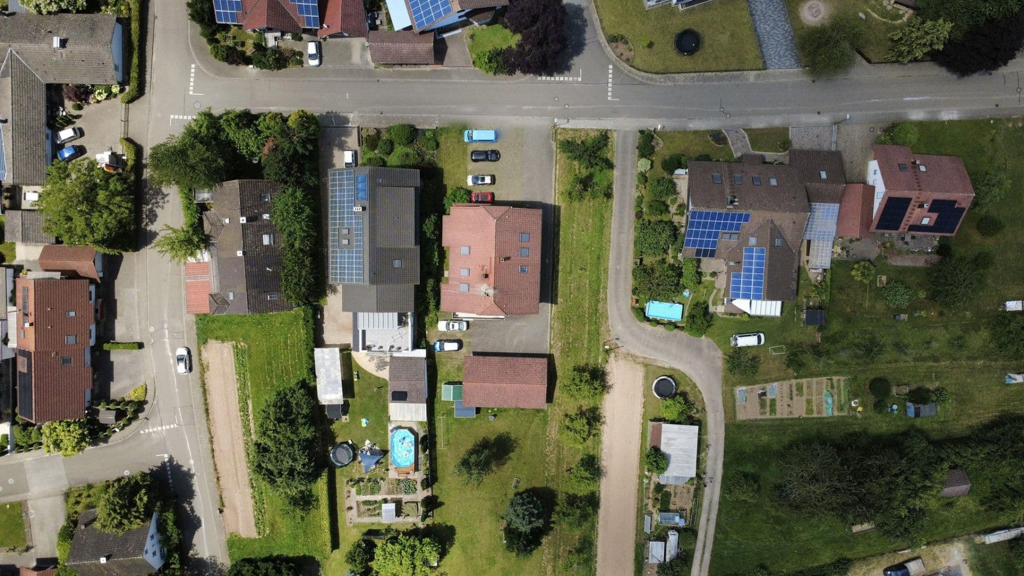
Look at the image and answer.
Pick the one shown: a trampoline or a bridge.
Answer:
trampoline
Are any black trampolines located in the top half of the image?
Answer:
Yes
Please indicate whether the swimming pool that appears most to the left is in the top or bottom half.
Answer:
bottom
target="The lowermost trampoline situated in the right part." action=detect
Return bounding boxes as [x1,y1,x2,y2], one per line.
[653,376,676,399]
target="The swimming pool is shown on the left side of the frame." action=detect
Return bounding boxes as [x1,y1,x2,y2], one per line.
[391,427,417,479]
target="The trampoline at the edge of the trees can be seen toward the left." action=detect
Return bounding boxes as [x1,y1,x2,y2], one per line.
[328,442,355,470]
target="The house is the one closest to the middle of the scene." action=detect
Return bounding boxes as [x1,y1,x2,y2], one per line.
[441,202,542,322]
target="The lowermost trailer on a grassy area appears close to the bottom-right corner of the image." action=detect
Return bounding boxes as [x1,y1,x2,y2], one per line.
[970,521,1024,546]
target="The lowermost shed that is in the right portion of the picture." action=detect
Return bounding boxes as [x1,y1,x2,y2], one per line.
[648,539,664,562]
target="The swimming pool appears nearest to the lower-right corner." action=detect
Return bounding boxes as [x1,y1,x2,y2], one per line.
[645,299,683,323]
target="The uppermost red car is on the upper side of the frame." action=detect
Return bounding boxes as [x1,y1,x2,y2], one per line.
[470,190,495,203]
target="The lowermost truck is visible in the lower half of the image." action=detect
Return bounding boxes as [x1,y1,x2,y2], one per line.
[884,555,926,576]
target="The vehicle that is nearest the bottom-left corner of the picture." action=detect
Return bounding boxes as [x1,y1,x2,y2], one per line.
[176,347,190,375]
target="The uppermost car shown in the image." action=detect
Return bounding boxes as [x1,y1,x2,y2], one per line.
[306,39,321,67]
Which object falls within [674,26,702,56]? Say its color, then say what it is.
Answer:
black trampoline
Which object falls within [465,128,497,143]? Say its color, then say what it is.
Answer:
blue vehicle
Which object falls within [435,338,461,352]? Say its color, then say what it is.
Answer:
white car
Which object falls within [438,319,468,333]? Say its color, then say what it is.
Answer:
white car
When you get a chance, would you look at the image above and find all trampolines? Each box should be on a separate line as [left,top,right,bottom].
[328,442,355,470]
[653,376,676,399]
[674,26,702,56]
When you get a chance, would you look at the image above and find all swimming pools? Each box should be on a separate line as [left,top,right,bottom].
[391,427,417,479]
[645,299,683,323]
